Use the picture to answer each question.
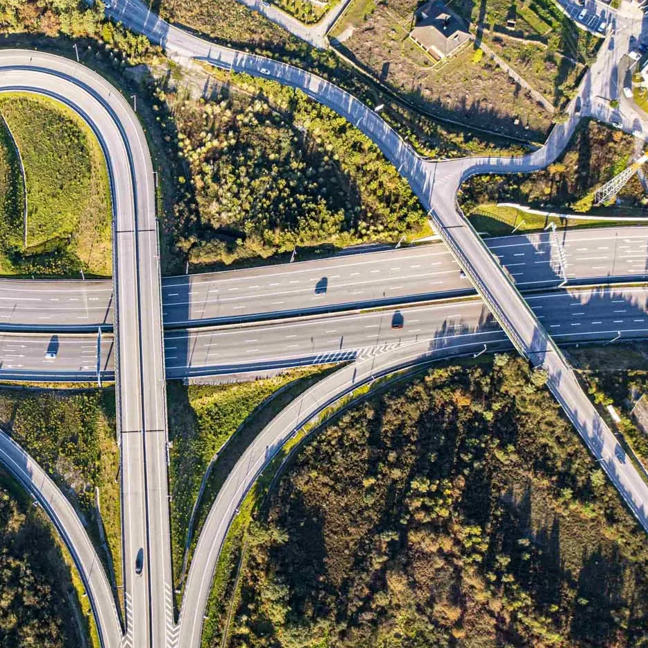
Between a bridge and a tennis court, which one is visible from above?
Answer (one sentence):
Visible in the photo is a bridge.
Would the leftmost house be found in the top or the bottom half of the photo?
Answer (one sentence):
The leftmost house sits in the top half of the picture.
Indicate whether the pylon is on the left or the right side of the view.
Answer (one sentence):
The pylon sits on the right side.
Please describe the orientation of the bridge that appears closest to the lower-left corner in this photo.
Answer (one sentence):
Seen from above, the bridge that appears closest to the lower-left corner lies from top to bottom.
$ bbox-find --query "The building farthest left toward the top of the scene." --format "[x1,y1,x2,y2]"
[399,10,479,71]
